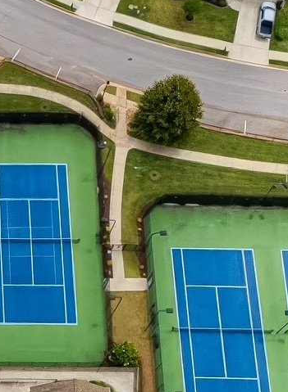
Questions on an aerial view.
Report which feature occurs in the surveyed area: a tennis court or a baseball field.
tennis court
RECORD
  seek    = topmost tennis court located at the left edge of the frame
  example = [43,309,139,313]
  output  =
[0,124,105,355]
